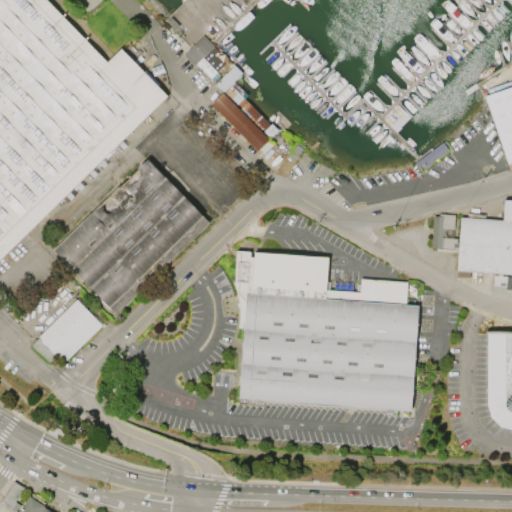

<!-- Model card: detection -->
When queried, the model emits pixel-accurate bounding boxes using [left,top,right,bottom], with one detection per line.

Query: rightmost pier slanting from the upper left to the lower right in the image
[344,98,432,158]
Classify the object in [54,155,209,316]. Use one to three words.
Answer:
warehouse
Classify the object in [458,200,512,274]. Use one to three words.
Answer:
building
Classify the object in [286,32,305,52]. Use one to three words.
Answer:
boat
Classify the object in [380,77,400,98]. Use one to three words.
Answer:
boat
